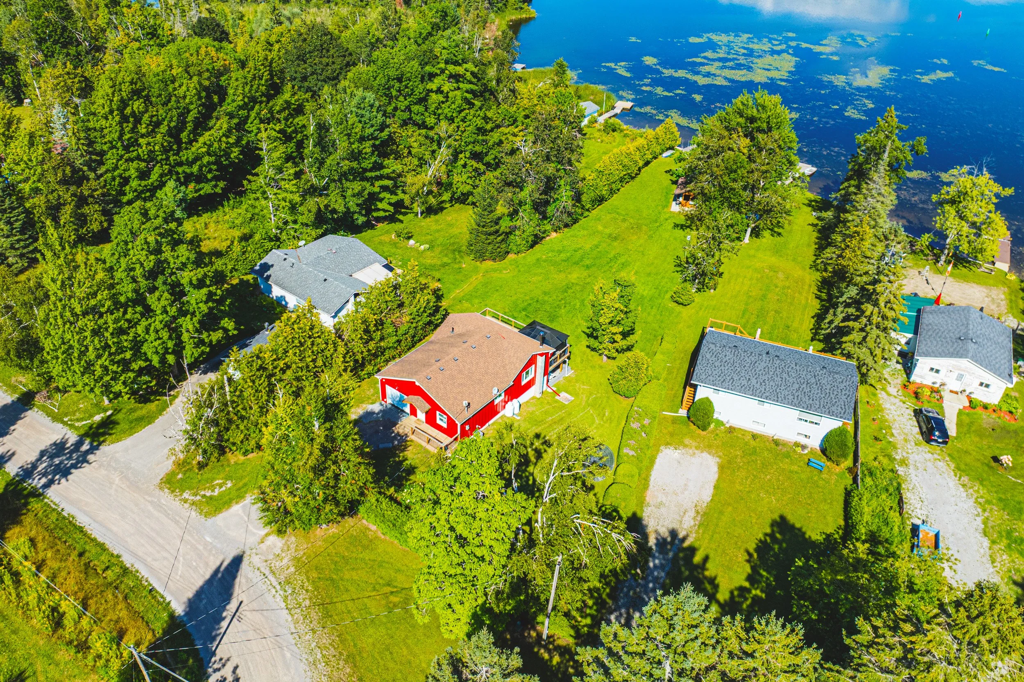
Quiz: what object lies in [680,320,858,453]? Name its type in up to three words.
house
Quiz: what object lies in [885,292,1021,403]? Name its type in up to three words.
house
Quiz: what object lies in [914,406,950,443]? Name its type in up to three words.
car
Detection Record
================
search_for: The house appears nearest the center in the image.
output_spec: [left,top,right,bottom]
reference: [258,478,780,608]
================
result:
[374,313,579,459]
